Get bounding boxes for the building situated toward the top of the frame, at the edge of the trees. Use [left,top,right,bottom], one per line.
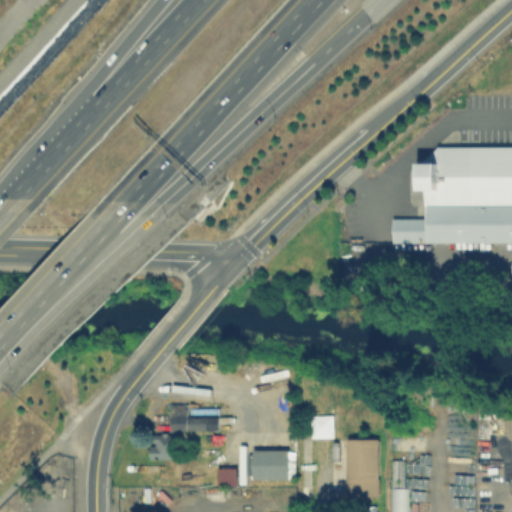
[392,148,512,244]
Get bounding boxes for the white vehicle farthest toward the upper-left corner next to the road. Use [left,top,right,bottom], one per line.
[106,52,120,67]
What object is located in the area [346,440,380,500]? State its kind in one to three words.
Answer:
building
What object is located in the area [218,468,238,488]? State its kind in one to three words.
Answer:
shed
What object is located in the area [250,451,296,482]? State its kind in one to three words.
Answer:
barn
